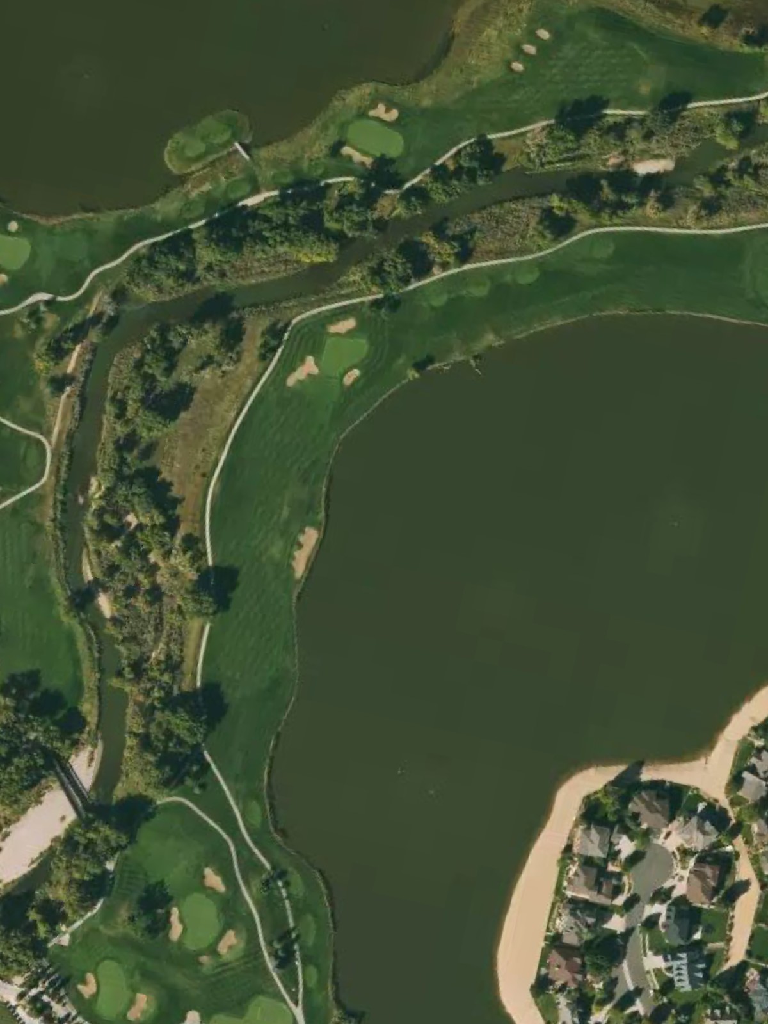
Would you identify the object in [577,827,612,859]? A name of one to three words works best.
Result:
house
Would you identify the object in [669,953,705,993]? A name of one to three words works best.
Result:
house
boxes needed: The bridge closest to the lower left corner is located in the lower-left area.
[48,754,91,820]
